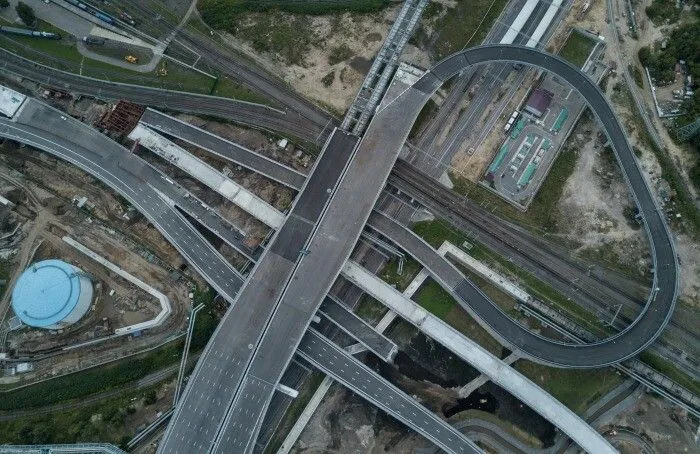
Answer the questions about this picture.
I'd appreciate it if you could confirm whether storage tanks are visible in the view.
Yes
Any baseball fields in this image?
No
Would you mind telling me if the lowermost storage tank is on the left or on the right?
left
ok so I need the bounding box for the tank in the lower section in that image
[10,258,92,328]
